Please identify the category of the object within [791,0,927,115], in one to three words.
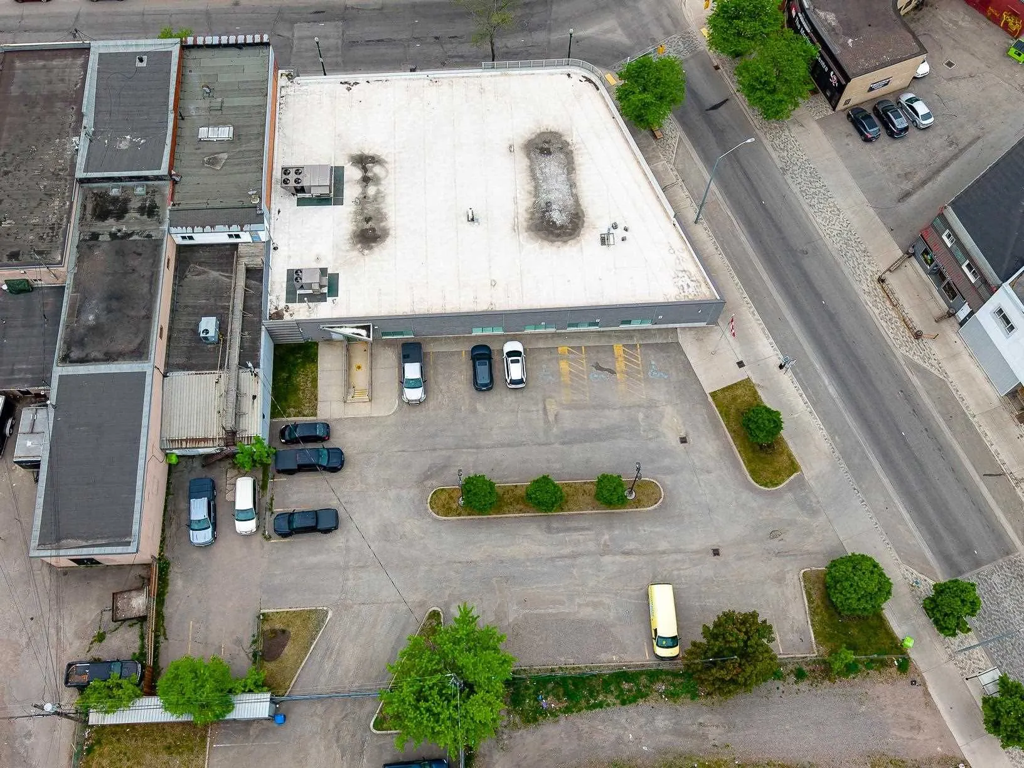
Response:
building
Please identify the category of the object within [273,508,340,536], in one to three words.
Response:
truck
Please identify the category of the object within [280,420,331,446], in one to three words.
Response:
car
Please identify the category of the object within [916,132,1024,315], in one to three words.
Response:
building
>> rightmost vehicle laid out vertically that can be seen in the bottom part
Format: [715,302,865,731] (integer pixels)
[648,583,681,660]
